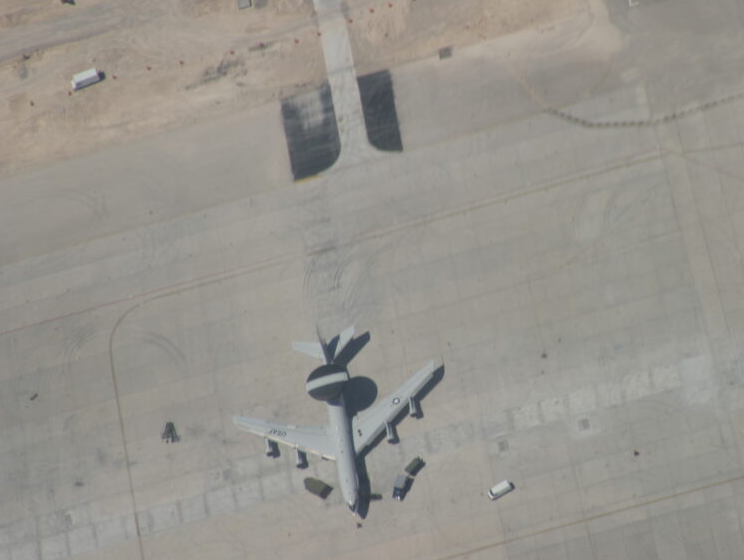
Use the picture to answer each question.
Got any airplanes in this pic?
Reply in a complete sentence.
Yes, I can see an airplane in this picture.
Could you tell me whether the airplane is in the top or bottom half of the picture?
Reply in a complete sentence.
Seen from above, the airplane lies in the bottom half of the view.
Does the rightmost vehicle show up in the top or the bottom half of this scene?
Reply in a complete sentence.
The bottom half of the photo is where the rightmost vehicle is.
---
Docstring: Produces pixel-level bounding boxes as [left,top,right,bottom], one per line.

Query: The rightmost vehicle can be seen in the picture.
[489,479,514,501]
